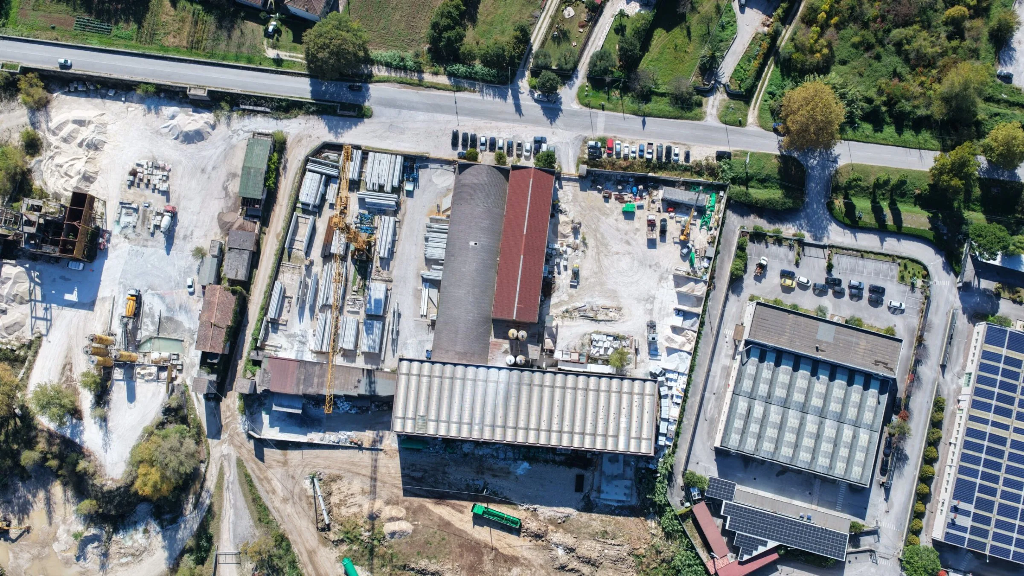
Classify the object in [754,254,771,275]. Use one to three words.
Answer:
vehicle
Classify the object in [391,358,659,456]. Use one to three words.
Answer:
building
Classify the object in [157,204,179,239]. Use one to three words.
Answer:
truck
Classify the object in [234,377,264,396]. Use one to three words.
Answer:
shed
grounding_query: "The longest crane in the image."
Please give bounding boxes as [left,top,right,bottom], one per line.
[325,146,372,412]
